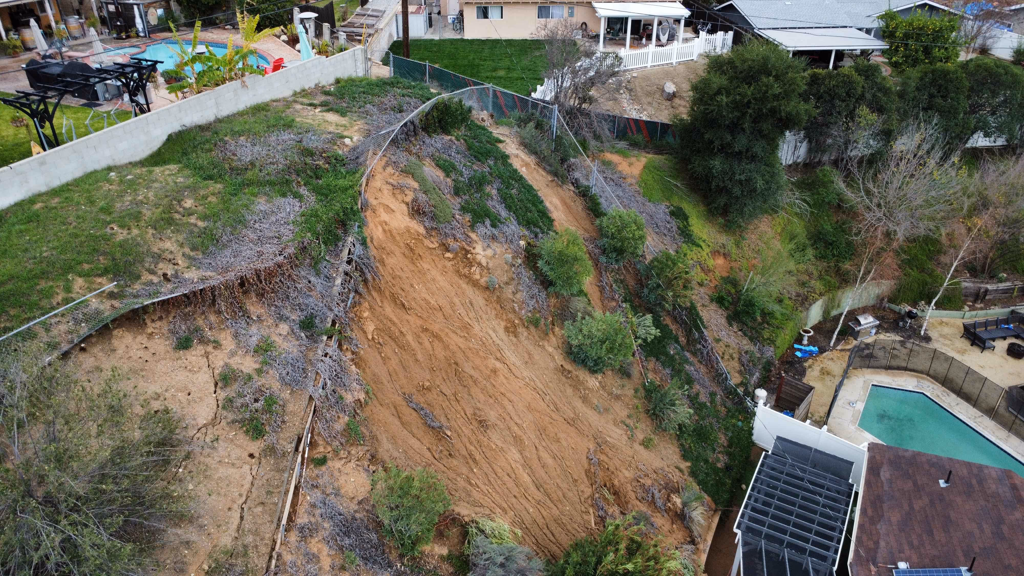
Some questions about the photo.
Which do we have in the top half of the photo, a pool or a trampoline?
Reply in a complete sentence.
You can see a pool in the top half of the photo.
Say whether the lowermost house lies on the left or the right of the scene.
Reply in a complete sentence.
The lowermost house appears in the right half of the scene.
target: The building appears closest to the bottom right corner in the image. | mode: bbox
[840,440,1024,576]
